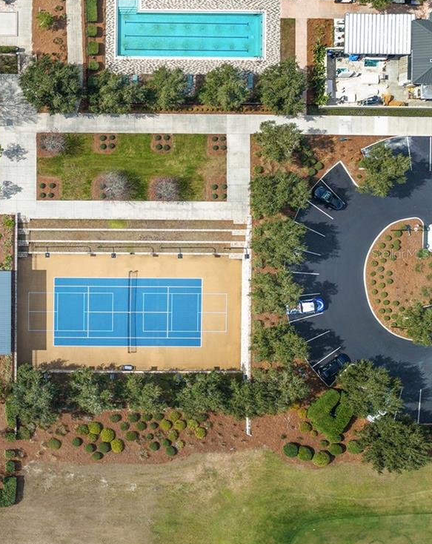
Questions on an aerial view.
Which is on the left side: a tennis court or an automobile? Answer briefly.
tennis court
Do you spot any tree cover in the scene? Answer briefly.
Yes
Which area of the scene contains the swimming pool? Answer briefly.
top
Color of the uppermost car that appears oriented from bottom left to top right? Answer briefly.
black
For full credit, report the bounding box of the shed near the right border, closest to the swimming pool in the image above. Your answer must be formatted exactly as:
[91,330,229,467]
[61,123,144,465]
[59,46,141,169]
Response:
[335,14,412,59]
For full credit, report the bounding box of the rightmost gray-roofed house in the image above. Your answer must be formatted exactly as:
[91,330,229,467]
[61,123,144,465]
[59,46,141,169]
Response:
[398,19,432,85]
